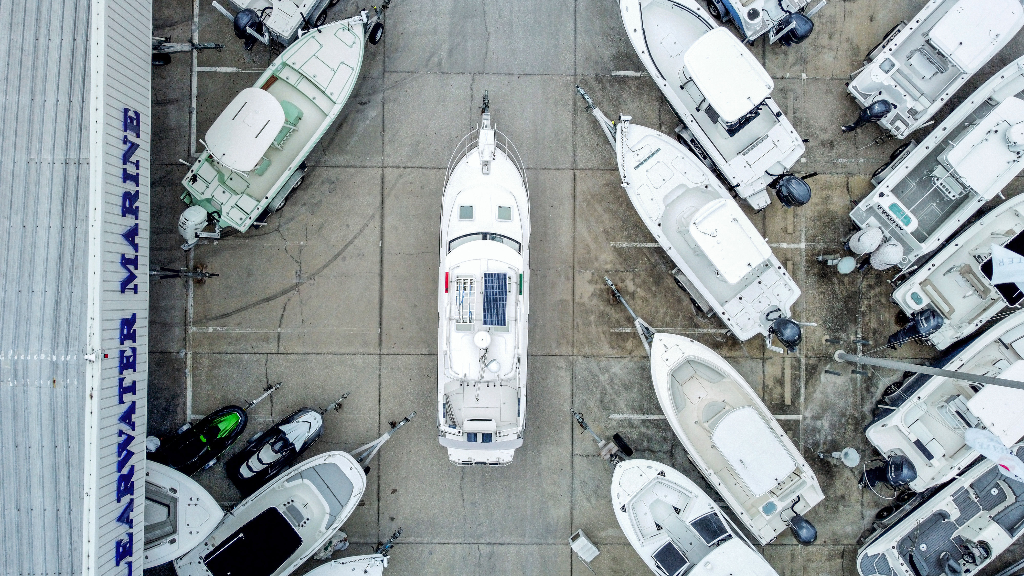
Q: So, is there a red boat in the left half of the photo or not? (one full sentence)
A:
No, I see no red boat in the left half of the photo.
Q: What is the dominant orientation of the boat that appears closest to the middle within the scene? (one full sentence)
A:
The boat that appears closest to the middle has been laid out up and down relative to the frame.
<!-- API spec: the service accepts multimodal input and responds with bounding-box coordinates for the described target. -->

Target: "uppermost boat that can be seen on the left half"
[230,0,325,58]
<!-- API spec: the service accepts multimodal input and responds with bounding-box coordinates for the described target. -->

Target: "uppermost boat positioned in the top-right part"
[720,0,816,70]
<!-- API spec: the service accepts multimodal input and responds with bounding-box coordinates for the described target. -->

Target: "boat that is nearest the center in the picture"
[436,113,531,466]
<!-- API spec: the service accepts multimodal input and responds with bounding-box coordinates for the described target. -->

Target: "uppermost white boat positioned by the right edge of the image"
[834,0,1024,149]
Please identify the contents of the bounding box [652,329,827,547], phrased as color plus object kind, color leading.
white boat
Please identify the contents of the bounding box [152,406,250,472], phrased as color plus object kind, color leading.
black boat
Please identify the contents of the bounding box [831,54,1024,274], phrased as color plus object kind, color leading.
white boat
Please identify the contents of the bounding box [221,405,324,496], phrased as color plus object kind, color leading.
black boat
